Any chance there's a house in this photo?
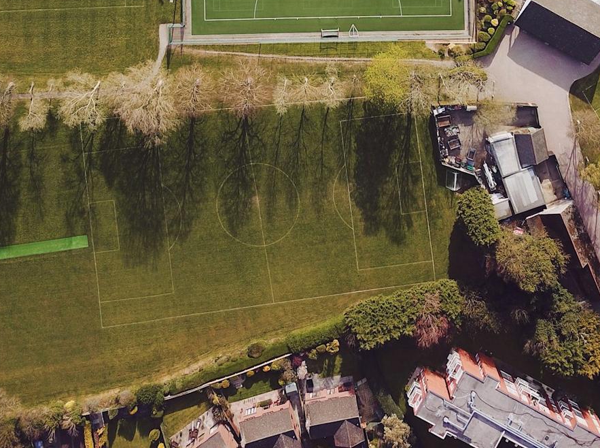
Yes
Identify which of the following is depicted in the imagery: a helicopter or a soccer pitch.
soccer pitch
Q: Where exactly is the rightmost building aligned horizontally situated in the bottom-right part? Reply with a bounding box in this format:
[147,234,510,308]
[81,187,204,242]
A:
[412,352,600,448]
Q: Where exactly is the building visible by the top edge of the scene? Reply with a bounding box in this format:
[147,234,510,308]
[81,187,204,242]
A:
[513,0,600,63]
